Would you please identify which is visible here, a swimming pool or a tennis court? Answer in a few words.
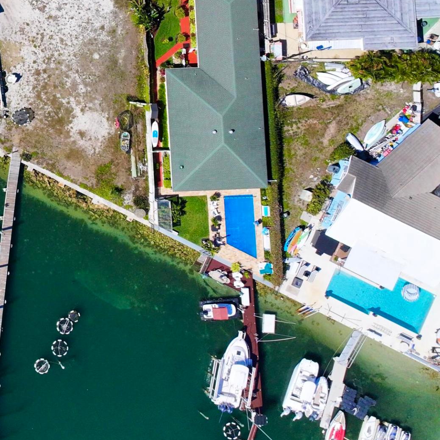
swimming pool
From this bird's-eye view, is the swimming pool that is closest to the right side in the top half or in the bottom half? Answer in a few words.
bottom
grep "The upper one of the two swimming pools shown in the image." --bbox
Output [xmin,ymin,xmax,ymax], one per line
[221,191,261,264]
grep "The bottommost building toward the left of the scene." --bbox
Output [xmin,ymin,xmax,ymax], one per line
[155,198,173,233]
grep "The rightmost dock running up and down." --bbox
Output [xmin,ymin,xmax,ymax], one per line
[316,358,345,427]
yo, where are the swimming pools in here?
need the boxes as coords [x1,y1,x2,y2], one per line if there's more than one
[221,191,261,264]
[323,267,439,339]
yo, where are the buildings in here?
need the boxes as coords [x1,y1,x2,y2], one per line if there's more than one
[162,0,268,192]
[155,198,173,233]
[293,0,440,50]
[317,119,440,291]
